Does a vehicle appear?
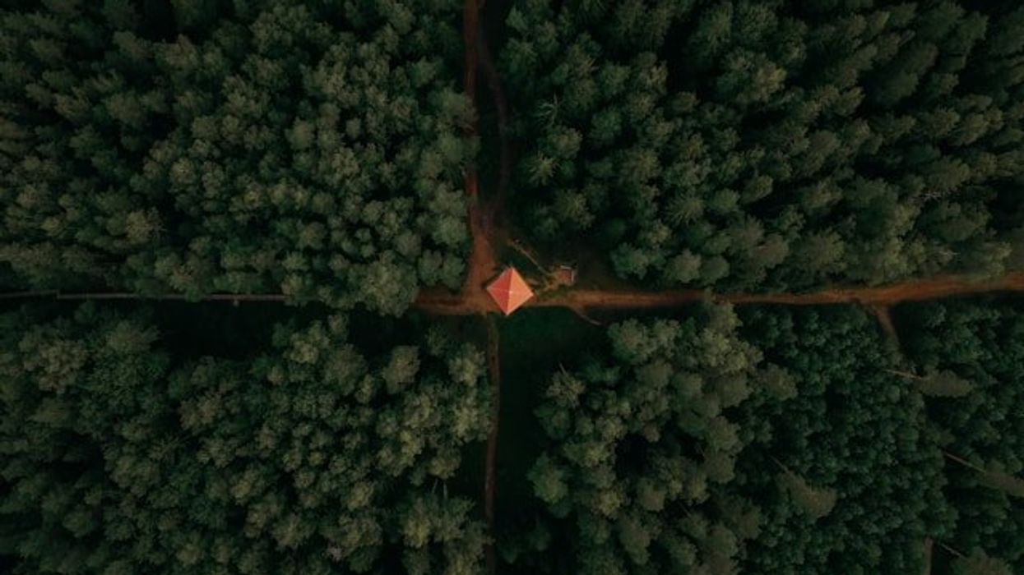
No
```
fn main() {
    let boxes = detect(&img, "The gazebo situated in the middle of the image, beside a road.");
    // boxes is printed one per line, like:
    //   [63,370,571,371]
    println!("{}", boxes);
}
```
[487,267,533,315]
